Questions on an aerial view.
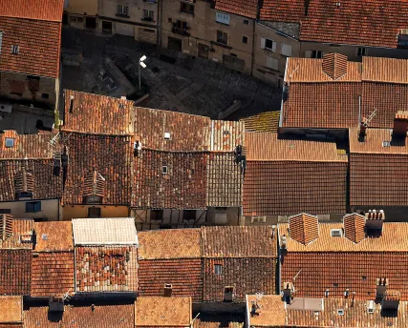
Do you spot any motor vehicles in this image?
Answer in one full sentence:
No, no motor vehicle can be seen from above.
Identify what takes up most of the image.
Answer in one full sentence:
Most of the picture is covered by buildings.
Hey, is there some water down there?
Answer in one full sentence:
No, there's no water in this view.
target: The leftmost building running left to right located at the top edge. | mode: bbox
[65,0,163,46]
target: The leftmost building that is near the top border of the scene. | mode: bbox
[0,0,64,115]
